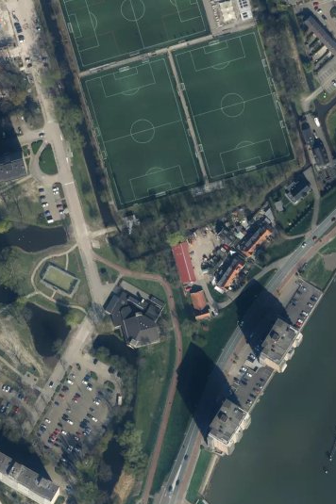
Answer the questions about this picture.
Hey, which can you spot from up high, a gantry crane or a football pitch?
football pitch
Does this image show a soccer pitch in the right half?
Yes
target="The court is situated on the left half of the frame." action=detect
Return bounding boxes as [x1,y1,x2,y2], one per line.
[42,265,78,293]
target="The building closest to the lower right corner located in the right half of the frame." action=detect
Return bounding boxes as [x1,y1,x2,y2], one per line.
[204,400,249,455]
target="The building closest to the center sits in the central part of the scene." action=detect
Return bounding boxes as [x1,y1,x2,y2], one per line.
[173,243,196,283]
